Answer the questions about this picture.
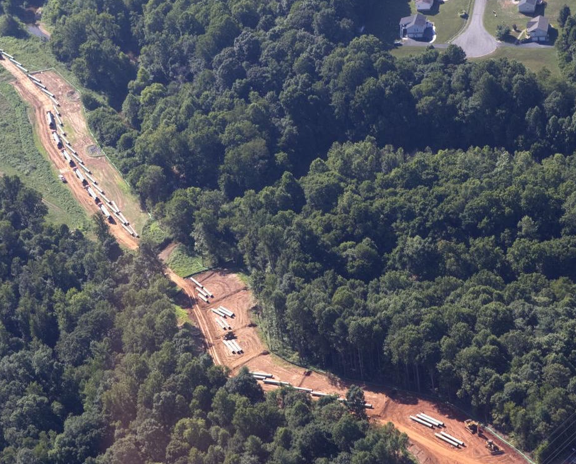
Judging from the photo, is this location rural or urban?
rural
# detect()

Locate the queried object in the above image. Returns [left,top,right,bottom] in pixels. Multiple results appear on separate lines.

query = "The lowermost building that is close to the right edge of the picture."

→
[528,17,555,42]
